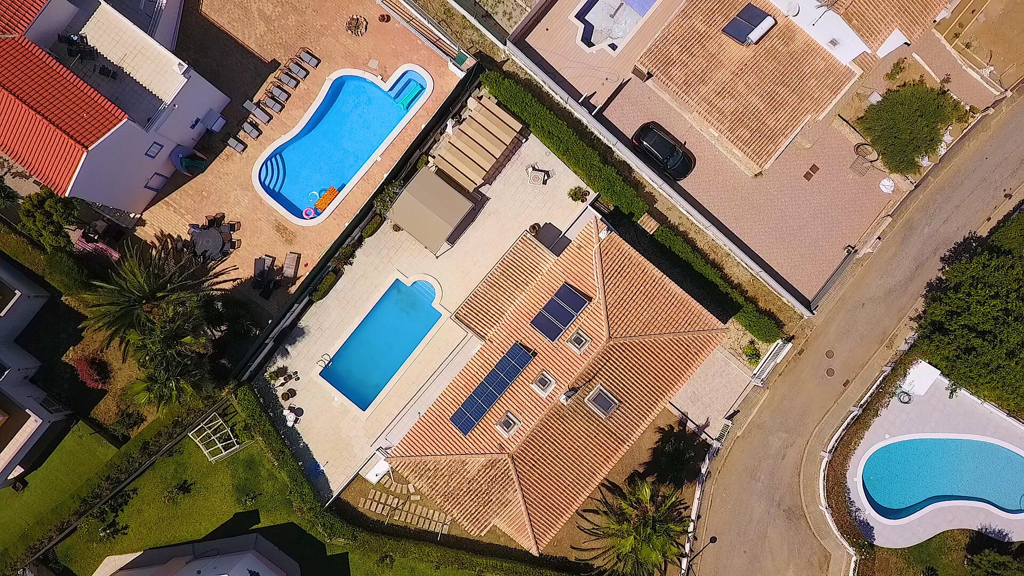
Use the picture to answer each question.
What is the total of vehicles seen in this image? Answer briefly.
one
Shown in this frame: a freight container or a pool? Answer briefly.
pool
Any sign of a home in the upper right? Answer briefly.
Yes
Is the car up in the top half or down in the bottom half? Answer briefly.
top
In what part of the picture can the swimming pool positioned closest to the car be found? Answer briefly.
top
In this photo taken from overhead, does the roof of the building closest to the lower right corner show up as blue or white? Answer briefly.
white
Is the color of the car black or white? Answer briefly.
black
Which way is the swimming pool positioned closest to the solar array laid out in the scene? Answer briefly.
on a diagonal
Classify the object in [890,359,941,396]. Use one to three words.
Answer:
building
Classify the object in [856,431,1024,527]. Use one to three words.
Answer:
swimming pool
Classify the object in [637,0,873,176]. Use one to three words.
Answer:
house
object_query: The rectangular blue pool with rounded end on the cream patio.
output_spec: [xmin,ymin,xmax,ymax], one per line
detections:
[309,269,450,421]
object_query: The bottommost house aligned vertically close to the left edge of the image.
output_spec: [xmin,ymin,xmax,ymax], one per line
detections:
[0,341,73,502]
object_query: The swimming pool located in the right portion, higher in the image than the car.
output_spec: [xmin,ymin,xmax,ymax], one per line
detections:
[569,0,665,59]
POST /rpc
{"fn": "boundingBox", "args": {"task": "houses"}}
[386,216,729,555]
[637,0,873,176]
[117,555,273,576]
[0,341,73,502]
[0,0,230,214]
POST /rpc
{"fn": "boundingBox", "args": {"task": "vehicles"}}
[630,119,695,182]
